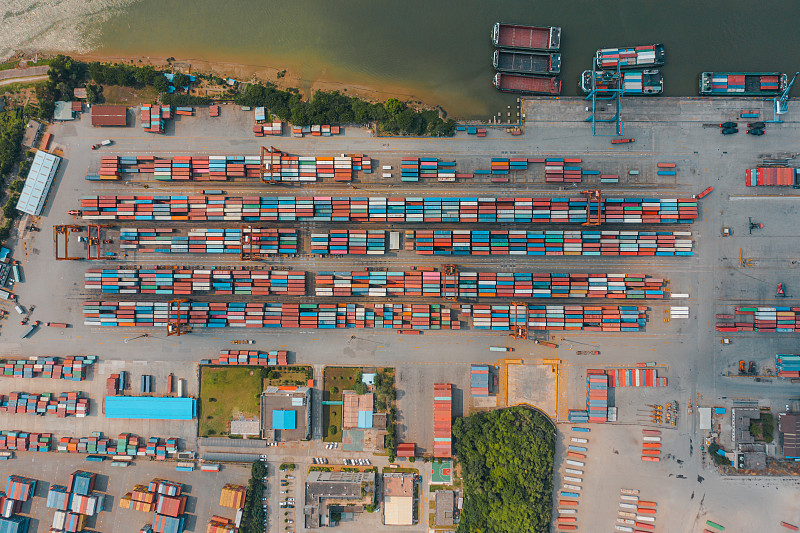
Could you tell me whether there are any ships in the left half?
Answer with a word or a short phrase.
No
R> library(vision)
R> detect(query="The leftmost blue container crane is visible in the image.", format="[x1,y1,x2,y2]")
[580,58,625,135]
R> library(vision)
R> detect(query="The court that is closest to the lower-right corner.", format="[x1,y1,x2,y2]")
[432,462,451,485]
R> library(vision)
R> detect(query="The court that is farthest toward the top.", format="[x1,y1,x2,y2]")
[344,430,363,451]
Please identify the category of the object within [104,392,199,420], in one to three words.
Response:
shed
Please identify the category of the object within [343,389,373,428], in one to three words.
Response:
building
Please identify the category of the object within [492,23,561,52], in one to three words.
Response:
ship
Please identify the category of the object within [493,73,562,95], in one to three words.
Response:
ship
